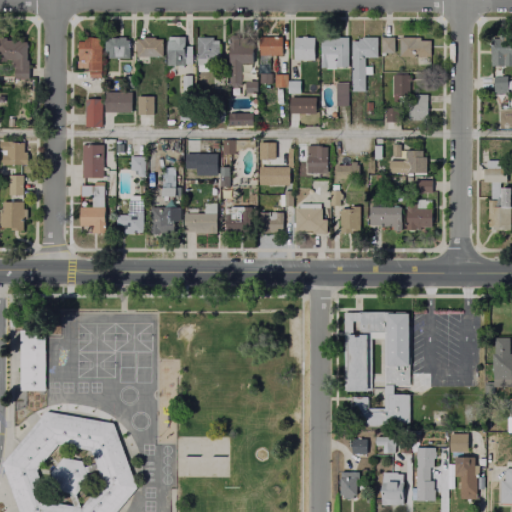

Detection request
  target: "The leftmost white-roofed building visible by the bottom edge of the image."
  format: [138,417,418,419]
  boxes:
[2,411,137,512]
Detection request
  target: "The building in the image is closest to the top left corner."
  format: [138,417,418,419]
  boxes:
[0,38,29,79]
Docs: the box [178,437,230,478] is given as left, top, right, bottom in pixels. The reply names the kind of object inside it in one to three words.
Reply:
sports court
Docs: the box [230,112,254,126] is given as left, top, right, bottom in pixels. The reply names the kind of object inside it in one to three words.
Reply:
house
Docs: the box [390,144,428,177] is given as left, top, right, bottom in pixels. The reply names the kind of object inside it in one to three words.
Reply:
house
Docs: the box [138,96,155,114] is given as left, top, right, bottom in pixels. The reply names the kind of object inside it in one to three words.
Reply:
building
